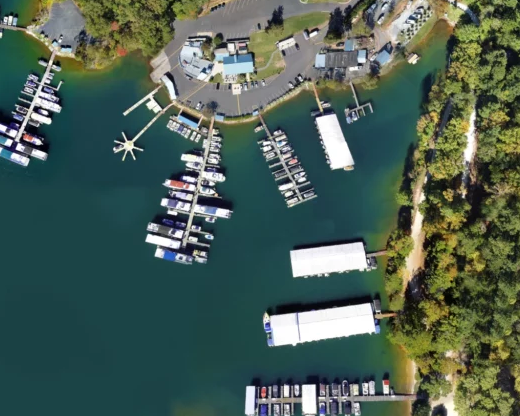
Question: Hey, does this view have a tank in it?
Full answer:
No, no tank can be seen from above.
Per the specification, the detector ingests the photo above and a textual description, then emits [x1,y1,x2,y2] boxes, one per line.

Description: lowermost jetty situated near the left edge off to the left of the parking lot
[11,52,62,142]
